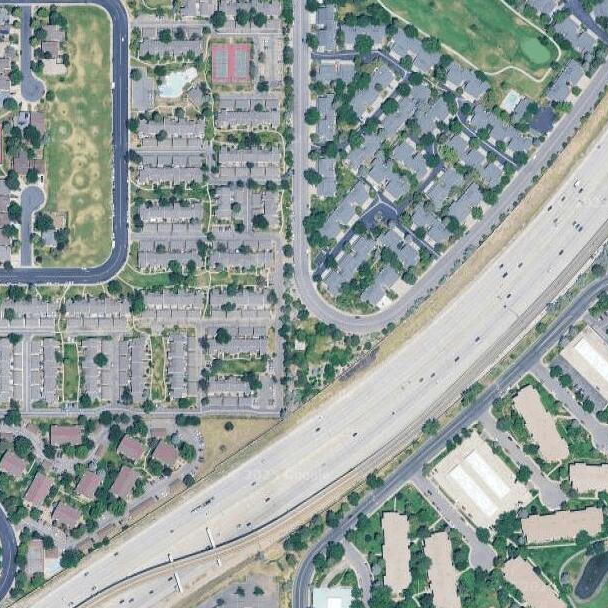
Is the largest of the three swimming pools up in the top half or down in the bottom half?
top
